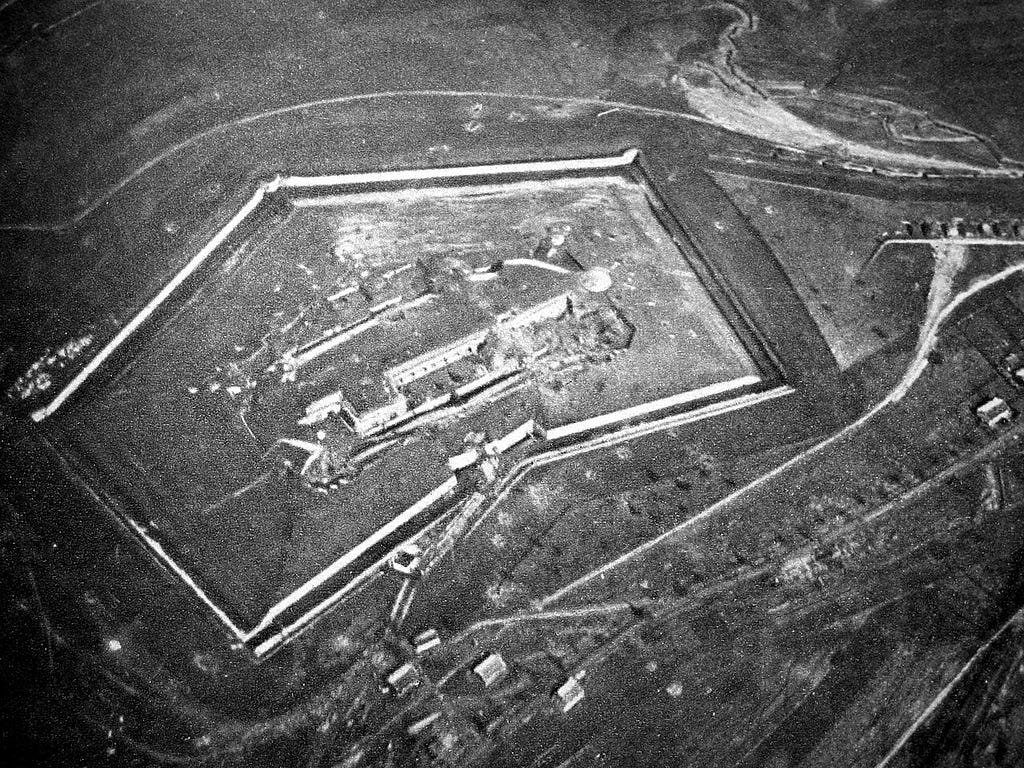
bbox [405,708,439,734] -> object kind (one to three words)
shed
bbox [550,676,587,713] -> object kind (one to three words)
house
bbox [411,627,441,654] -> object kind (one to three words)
house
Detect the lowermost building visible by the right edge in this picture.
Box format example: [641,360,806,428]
[976,395,1013,427]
